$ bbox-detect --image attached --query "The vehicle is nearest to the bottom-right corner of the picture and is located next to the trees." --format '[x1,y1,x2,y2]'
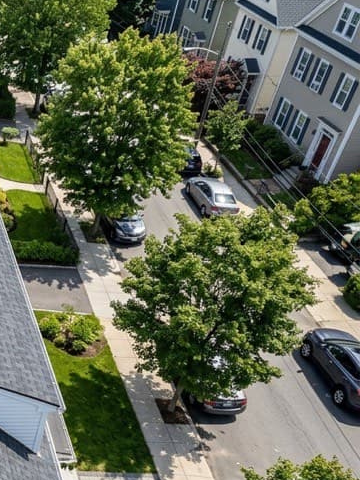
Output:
[298,328,360,417]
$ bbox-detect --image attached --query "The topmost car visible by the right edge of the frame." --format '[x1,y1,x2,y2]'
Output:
[322,225,360,266]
